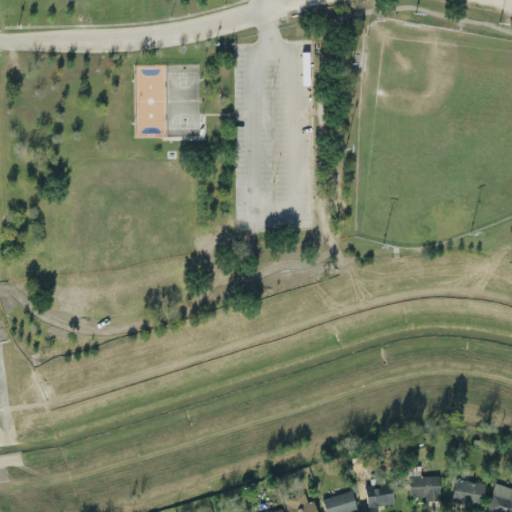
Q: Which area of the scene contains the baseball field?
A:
top right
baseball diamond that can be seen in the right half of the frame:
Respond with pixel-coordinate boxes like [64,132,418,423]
[358,24,512,245]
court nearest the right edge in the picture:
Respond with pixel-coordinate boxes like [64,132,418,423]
[167,65,200,138]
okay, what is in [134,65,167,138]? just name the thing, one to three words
sports court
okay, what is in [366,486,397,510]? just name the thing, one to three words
house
